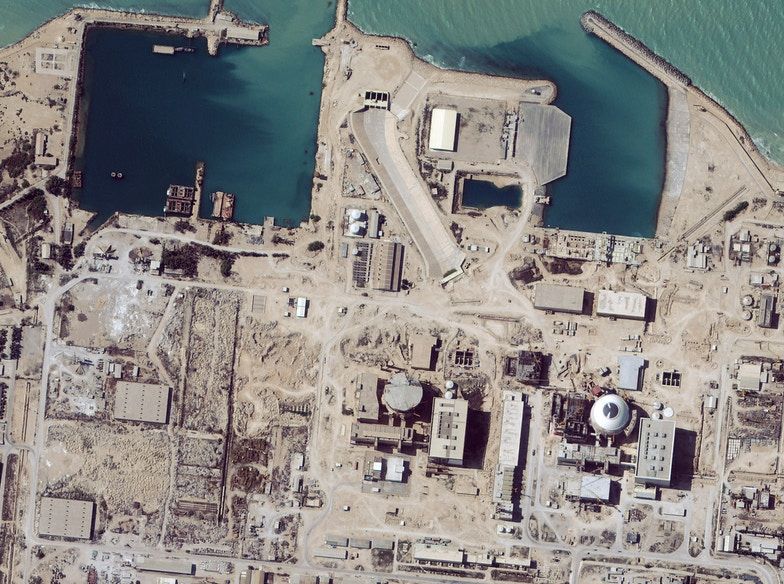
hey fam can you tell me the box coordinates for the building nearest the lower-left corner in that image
[38,496,94,540]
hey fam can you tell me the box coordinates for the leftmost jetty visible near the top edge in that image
[194,0,272,58]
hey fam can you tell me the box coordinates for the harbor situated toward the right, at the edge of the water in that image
[342,0,784,243]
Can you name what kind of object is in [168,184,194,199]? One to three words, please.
ship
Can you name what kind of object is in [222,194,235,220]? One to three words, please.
ship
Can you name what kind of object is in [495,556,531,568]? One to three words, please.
building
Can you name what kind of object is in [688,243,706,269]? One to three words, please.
house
